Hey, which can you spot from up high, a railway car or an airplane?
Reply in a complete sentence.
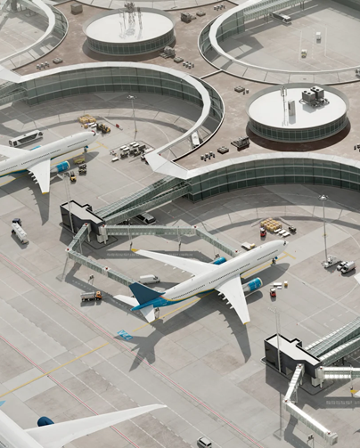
There is an airplane in the scene.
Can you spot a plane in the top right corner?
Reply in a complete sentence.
No, there is no plane in the top right corner.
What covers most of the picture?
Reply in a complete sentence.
The largest share of the image is taken up by paved ground.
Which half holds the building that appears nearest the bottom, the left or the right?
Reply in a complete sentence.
The building that appears nearest the bottom appears in the right half of the scene.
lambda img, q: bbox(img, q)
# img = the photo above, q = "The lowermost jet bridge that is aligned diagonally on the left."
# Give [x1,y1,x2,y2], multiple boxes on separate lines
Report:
[63,223,157,292]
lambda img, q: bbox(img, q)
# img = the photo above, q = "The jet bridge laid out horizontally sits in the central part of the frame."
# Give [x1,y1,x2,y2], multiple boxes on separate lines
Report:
[104,220,244,257]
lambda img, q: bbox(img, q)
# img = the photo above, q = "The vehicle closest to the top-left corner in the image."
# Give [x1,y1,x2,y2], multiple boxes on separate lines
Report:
[9,126,43,144]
